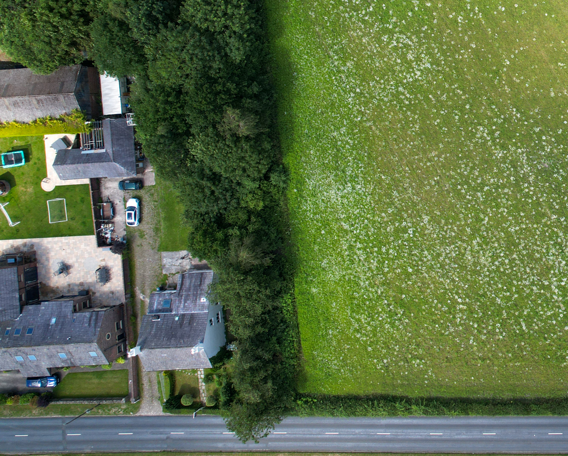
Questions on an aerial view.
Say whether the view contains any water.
No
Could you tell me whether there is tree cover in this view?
Yes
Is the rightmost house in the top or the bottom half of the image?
bottom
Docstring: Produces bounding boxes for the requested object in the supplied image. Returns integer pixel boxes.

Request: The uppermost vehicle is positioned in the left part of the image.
[119,179,144,191]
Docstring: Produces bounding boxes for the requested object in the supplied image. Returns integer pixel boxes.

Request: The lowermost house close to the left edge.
[0,263,124,378]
